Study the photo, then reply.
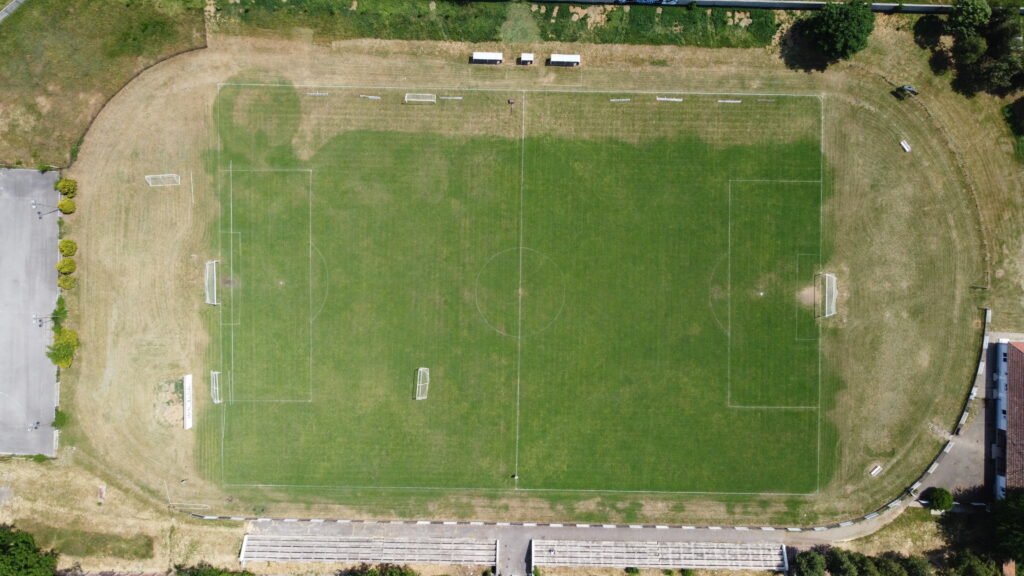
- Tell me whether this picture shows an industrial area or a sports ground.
sports ground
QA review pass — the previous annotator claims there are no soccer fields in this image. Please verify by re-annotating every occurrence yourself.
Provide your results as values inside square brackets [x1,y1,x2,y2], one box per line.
[216,83,833,497]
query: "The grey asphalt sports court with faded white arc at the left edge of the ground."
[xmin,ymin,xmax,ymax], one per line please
[0,166,60,460]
